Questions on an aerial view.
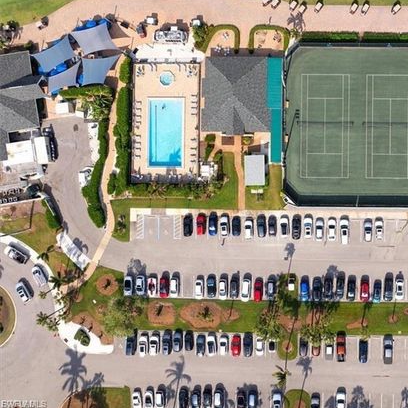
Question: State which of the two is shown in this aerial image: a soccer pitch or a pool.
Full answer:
This aerial view contains a pool.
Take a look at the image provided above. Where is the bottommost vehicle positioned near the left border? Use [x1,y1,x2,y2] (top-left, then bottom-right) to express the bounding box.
[15,281,32,302]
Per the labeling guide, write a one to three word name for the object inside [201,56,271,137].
building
